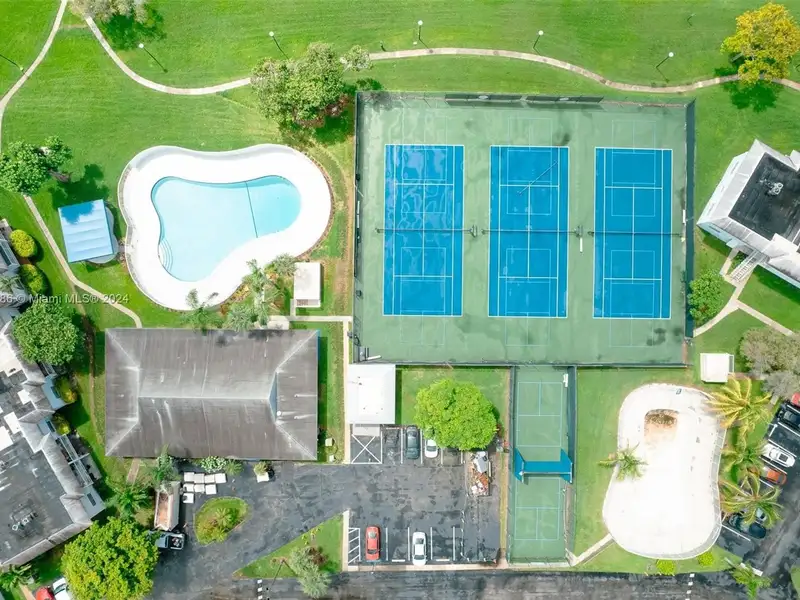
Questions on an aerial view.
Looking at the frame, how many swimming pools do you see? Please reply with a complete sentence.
Just 1 swimming pool appears in this view.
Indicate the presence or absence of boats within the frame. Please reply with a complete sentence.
No, the scene contains no boat.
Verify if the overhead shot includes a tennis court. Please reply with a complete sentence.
Yes, this view includes a tennis court.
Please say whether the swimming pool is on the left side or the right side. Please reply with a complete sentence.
The swimming pool appears in the left half of the scene.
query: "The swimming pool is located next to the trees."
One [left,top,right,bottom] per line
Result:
[122,147,332,309]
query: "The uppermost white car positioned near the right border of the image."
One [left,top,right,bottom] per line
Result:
[760,442,795,470]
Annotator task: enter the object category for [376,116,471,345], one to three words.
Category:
tennis court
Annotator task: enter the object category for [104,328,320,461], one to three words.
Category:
building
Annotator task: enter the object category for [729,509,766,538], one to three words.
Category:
car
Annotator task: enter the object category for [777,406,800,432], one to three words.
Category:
car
